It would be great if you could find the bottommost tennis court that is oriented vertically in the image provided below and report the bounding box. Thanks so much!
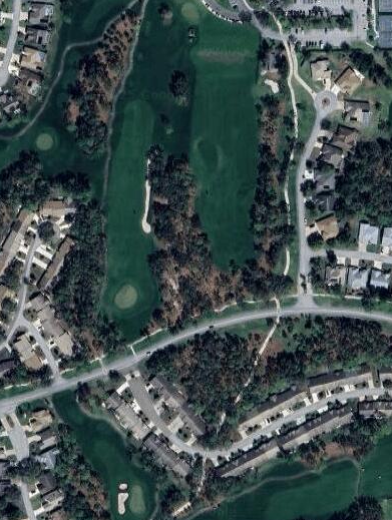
[378,16,392,49]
